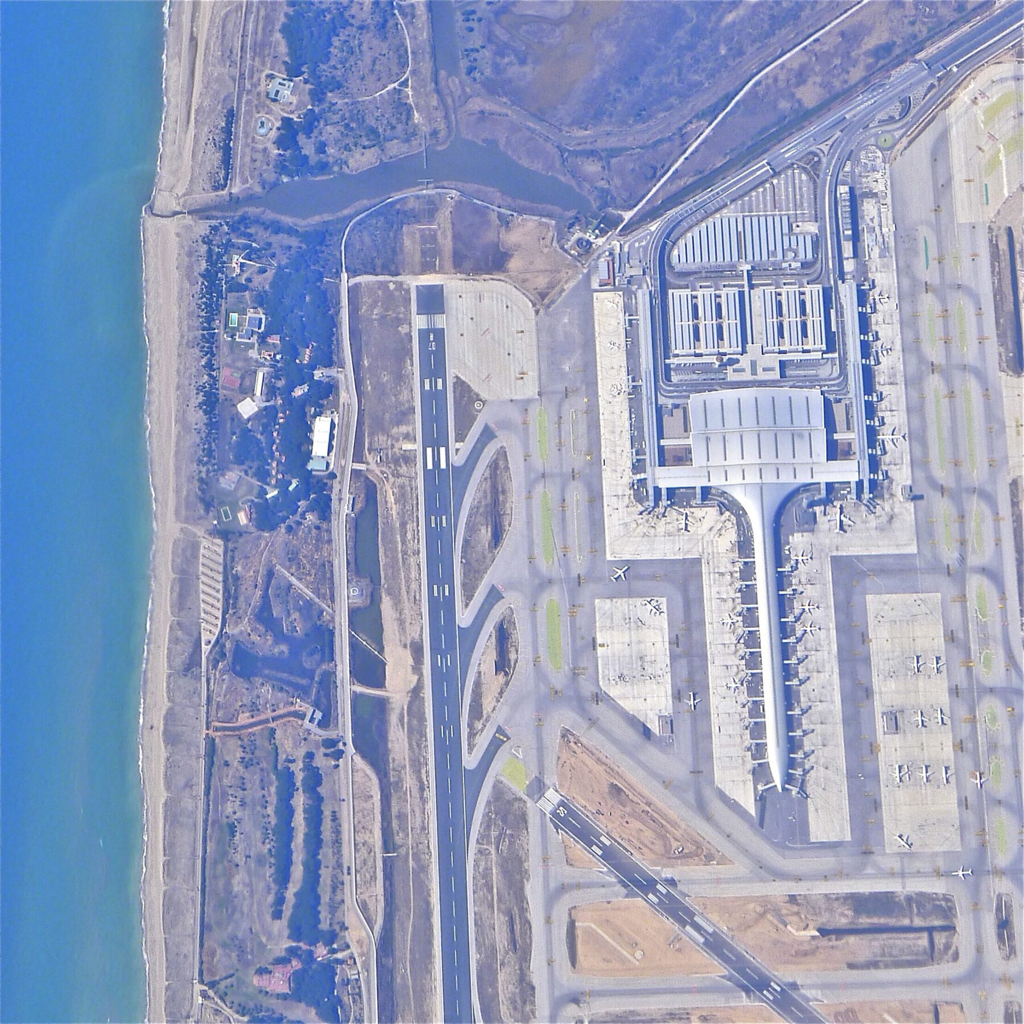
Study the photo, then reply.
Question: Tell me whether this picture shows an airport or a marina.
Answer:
airport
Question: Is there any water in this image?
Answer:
Yes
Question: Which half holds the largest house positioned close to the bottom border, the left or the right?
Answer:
left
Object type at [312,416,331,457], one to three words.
building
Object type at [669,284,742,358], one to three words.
building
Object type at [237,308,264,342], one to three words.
house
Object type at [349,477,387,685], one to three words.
pond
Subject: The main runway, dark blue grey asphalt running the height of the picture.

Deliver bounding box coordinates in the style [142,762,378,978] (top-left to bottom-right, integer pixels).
[411,282,477,1024]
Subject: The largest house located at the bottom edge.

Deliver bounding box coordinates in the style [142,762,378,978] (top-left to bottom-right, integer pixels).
[254,960,299,993]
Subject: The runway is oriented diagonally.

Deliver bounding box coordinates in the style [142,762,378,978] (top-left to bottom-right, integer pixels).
[527,778,835,1024]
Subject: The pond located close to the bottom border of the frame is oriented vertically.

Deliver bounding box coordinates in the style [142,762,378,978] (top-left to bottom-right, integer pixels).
[353,696,395,1024]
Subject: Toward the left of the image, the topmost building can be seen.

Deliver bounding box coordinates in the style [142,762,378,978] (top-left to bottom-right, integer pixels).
[268,77,294,103]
